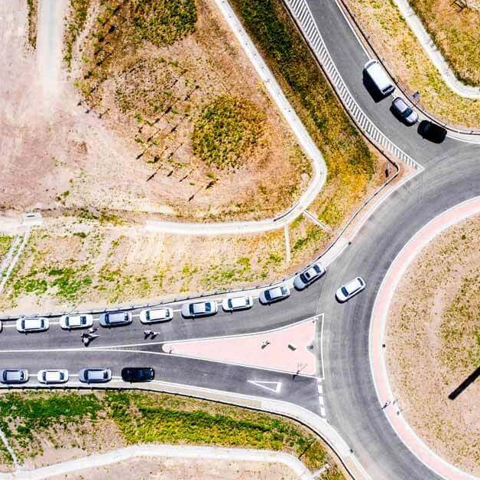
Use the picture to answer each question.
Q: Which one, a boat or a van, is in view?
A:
van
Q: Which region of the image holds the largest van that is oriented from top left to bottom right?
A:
top right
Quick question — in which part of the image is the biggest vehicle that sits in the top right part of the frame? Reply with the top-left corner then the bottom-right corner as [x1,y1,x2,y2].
[362,57,396,98]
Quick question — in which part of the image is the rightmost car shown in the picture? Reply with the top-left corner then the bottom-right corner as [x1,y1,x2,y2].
[416,119,447,143]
